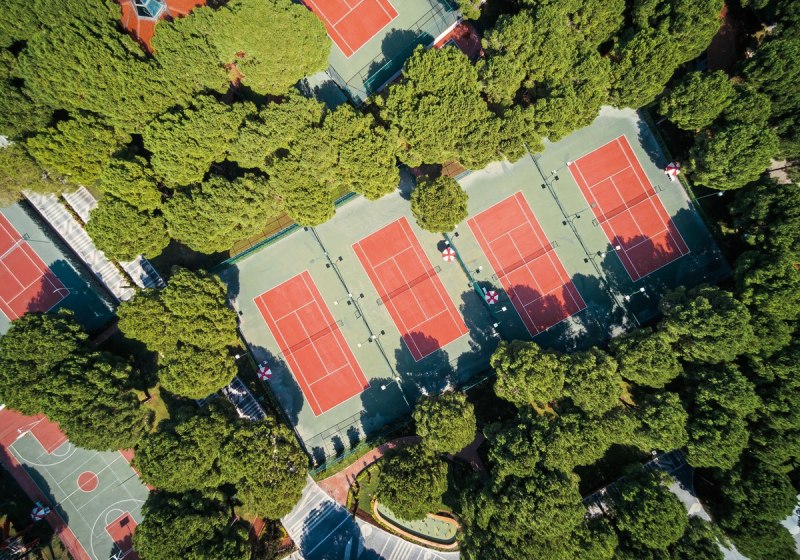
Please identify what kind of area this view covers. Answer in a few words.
sports ground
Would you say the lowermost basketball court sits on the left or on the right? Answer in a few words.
left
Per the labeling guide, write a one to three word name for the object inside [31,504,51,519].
umbrella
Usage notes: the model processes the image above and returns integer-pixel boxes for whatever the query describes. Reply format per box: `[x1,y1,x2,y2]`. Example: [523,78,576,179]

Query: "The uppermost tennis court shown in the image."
[273,0,455,105]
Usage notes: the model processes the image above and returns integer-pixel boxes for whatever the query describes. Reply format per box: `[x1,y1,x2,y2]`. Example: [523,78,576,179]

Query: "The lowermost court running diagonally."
[0,376,189,560]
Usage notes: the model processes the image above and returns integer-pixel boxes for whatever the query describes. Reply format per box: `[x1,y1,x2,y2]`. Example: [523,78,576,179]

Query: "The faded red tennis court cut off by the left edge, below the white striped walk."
[0,171,123,356]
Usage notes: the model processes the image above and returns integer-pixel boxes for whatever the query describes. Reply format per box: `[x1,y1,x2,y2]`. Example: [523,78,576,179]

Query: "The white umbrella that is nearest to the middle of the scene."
[441,248,455,262]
